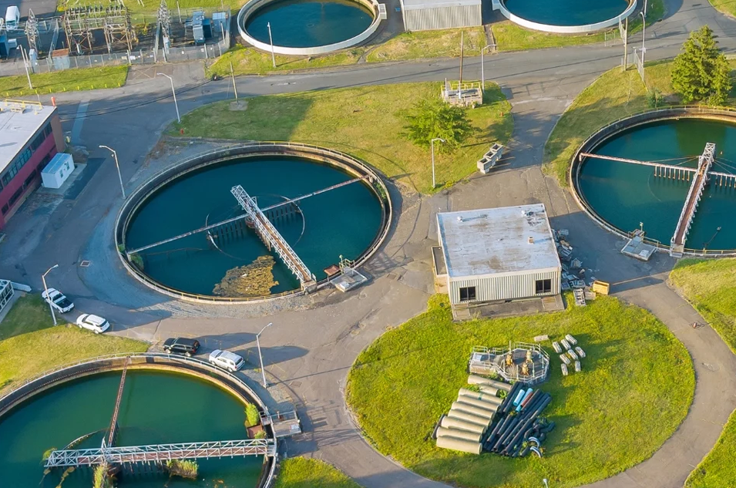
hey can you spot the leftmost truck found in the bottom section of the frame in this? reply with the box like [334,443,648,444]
[40,287,75,311]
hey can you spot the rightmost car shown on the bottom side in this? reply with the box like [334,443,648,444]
[205,349,245,371]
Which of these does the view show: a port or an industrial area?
industrial area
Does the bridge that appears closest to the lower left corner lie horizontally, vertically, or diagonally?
horizontally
